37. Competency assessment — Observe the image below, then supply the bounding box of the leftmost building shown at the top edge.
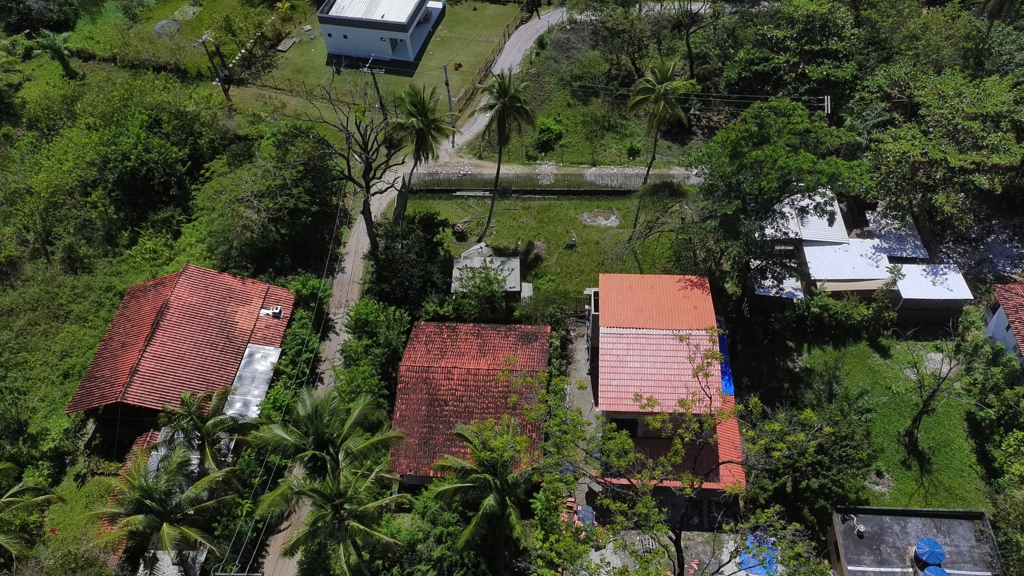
[316,0,442,61]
